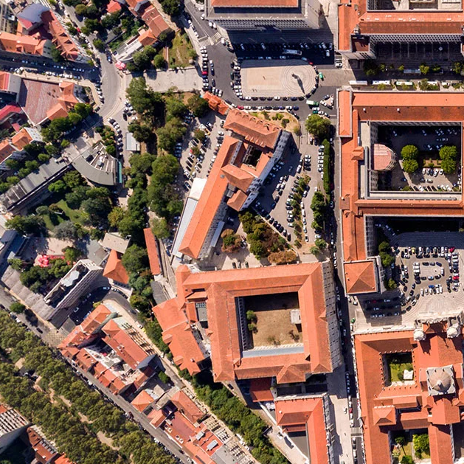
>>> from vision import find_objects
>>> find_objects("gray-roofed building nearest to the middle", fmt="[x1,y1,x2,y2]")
[150,281,172,304]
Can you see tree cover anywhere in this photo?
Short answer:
Yes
